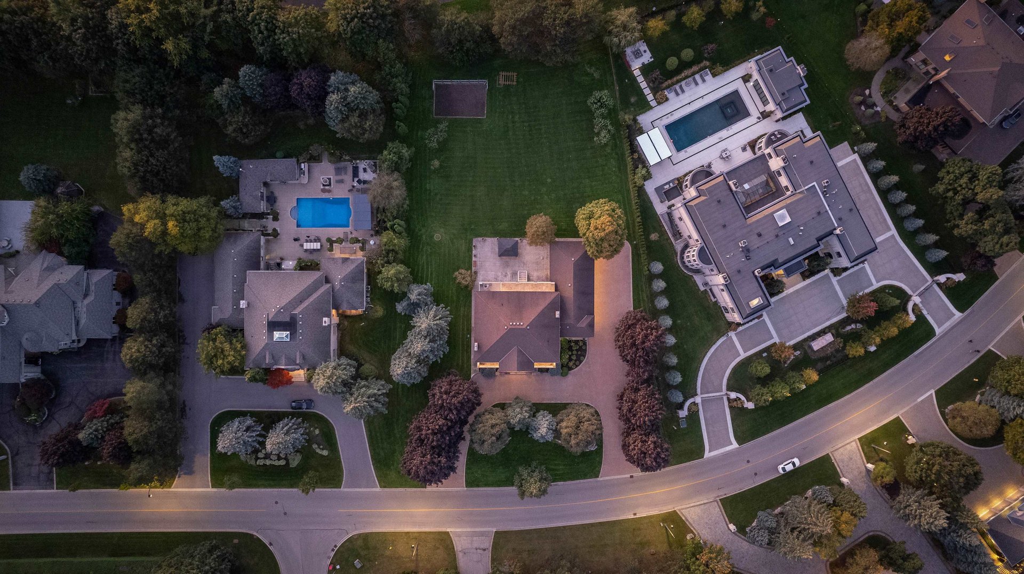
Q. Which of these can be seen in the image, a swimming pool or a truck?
swimming pool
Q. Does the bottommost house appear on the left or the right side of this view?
right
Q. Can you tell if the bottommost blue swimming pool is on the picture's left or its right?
left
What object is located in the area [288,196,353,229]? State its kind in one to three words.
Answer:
swimming pool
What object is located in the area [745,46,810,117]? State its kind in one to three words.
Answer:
shed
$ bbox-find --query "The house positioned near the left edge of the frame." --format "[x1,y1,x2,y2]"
[0,250,124,384]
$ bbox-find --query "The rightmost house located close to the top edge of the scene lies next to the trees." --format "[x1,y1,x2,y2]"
[898,0,1024,128]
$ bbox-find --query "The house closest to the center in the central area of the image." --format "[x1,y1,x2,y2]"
[473,241,595,375]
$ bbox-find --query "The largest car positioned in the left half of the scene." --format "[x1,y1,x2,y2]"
[291,399,315,411]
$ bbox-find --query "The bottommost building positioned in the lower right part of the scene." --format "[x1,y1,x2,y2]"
[970,476,1024,567]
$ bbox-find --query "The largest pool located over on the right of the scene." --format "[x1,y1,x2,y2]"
[662,88,753,153]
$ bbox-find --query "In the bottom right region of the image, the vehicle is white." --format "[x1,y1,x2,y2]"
[777,458,800,474]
